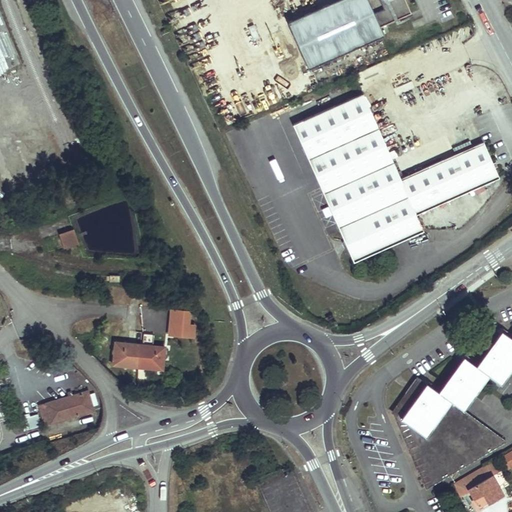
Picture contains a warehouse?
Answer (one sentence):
Yes, a warehouse is visible in the scene.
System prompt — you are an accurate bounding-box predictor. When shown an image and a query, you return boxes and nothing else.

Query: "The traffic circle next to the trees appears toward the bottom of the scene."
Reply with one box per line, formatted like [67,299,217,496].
[197,272,370,469]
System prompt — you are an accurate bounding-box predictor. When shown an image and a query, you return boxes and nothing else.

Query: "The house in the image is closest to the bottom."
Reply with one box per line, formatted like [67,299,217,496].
[454,464,509,512]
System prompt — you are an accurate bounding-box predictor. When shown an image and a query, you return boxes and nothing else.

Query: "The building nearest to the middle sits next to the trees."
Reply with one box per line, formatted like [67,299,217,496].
[168,310,196,339]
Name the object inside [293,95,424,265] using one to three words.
warehouse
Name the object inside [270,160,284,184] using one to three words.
vehicle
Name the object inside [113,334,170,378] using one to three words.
house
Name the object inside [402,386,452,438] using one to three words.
building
